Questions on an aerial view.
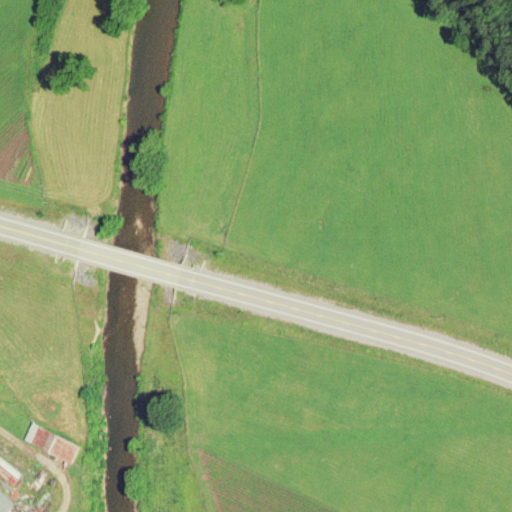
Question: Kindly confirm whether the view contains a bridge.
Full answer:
Yes, there's a bridge down there.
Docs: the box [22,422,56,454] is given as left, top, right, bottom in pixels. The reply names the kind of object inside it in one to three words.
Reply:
barn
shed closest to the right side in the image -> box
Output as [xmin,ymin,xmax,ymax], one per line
[47,436,80,466]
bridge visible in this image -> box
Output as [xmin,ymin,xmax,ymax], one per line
[78,238,179,287]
